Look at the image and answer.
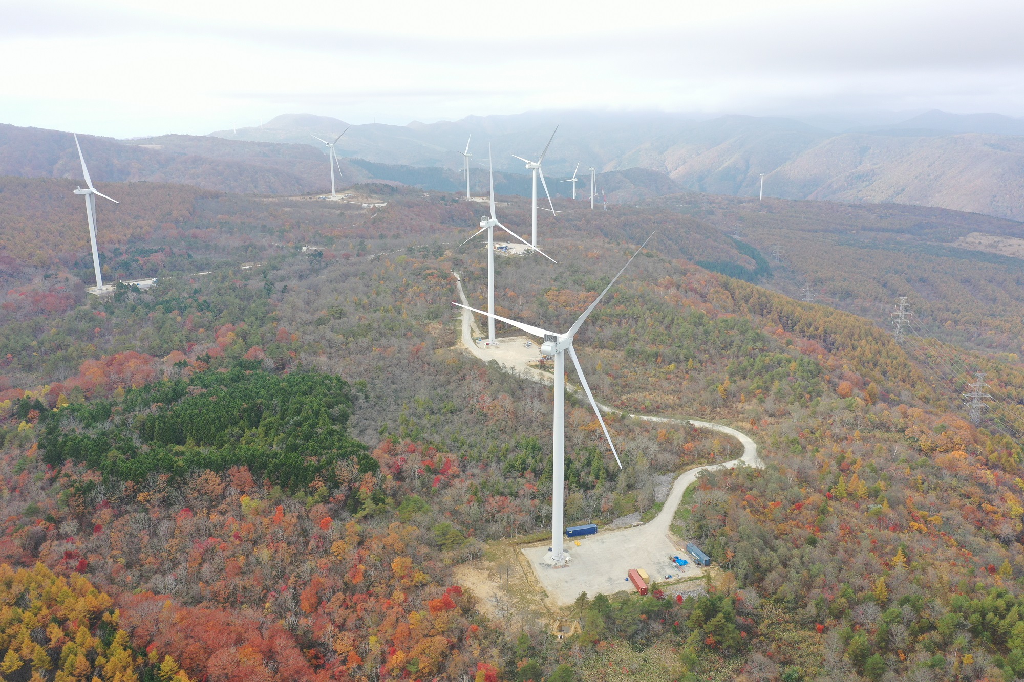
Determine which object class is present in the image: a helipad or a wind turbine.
wind turbine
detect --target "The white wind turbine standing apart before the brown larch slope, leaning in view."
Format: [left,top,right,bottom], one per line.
[76,132,120,288]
